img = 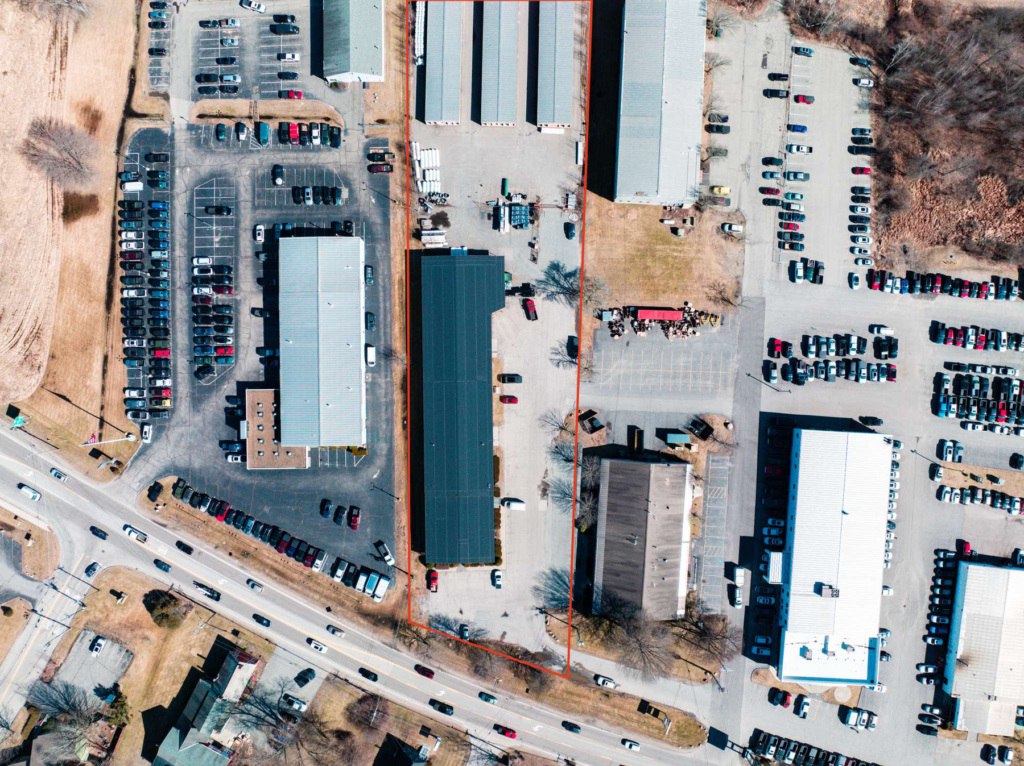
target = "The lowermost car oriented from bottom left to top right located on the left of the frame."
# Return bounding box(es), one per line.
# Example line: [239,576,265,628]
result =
[296,670,315,685]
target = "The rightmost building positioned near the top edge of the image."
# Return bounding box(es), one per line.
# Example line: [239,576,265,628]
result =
[614,0,707,204]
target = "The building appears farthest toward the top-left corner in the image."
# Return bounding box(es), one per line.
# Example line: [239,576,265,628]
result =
[323,0,385,87]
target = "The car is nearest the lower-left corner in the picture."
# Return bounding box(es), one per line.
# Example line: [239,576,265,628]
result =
[90,637,105,656]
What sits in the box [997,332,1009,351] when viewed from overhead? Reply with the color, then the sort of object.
white vehicle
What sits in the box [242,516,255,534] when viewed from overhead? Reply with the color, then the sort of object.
blue vehicle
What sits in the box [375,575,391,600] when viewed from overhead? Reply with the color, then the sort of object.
white vehicle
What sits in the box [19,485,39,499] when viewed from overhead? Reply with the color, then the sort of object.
white car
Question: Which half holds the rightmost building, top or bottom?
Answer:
bottom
